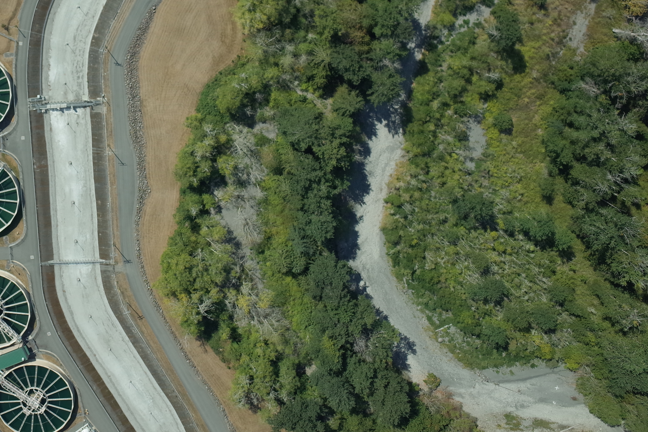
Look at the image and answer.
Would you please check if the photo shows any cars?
No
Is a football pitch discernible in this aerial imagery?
No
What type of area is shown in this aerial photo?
industrial area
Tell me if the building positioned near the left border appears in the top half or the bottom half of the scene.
bottom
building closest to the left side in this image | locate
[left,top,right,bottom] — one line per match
[0,340,31,370]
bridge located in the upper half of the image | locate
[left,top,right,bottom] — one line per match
[29,94,102,113]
